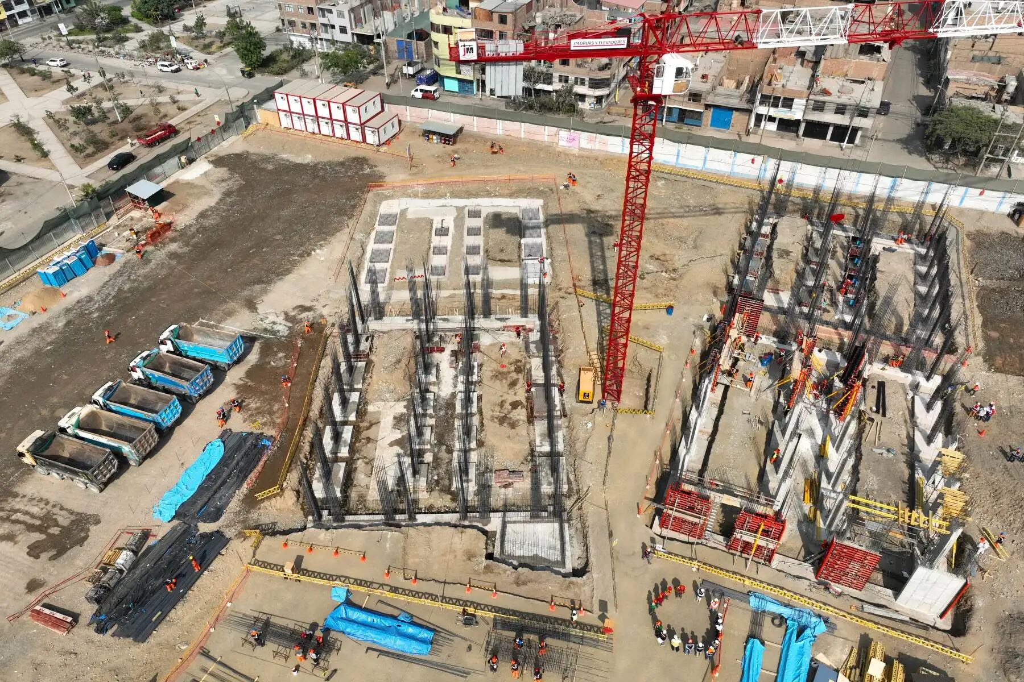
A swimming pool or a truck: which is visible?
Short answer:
truck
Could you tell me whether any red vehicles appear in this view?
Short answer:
Yes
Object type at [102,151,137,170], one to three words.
car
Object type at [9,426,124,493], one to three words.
truck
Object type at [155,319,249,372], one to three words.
truck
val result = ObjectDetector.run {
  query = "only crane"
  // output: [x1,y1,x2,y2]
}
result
[452,0,1024,406]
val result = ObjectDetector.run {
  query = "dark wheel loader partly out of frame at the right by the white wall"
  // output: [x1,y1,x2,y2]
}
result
[995,203,1024,231]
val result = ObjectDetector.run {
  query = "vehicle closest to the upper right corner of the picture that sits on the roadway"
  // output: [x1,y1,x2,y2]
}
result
[876,101,894,115]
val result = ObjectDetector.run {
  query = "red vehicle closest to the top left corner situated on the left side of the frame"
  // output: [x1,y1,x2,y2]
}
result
[133,122,175,148]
